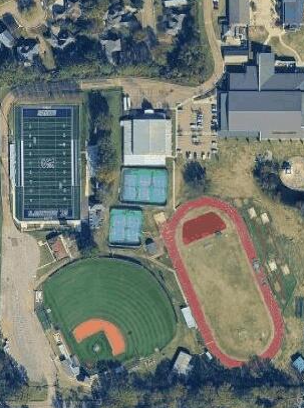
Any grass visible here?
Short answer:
Yes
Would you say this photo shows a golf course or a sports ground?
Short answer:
sports ground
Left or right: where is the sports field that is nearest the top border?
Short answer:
left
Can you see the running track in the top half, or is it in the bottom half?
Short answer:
bottom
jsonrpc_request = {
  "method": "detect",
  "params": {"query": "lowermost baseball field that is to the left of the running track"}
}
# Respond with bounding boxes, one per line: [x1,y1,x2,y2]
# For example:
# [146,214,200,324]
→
[37,258,176,371]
